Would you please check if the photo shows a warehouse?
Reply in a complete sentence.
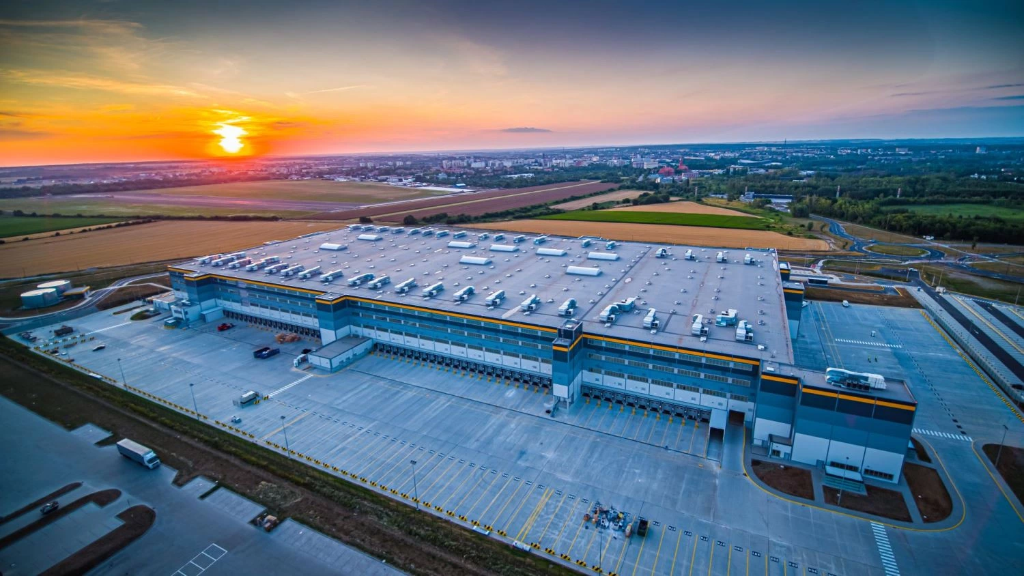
Yes, this view includes a warehouse.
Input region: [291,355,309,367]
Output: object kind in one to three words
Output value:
vehicle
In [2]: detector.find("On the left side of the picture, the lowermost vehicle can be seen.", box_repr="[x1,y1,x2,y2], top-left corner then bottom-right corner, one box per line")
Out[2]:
[32,501,63,515]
